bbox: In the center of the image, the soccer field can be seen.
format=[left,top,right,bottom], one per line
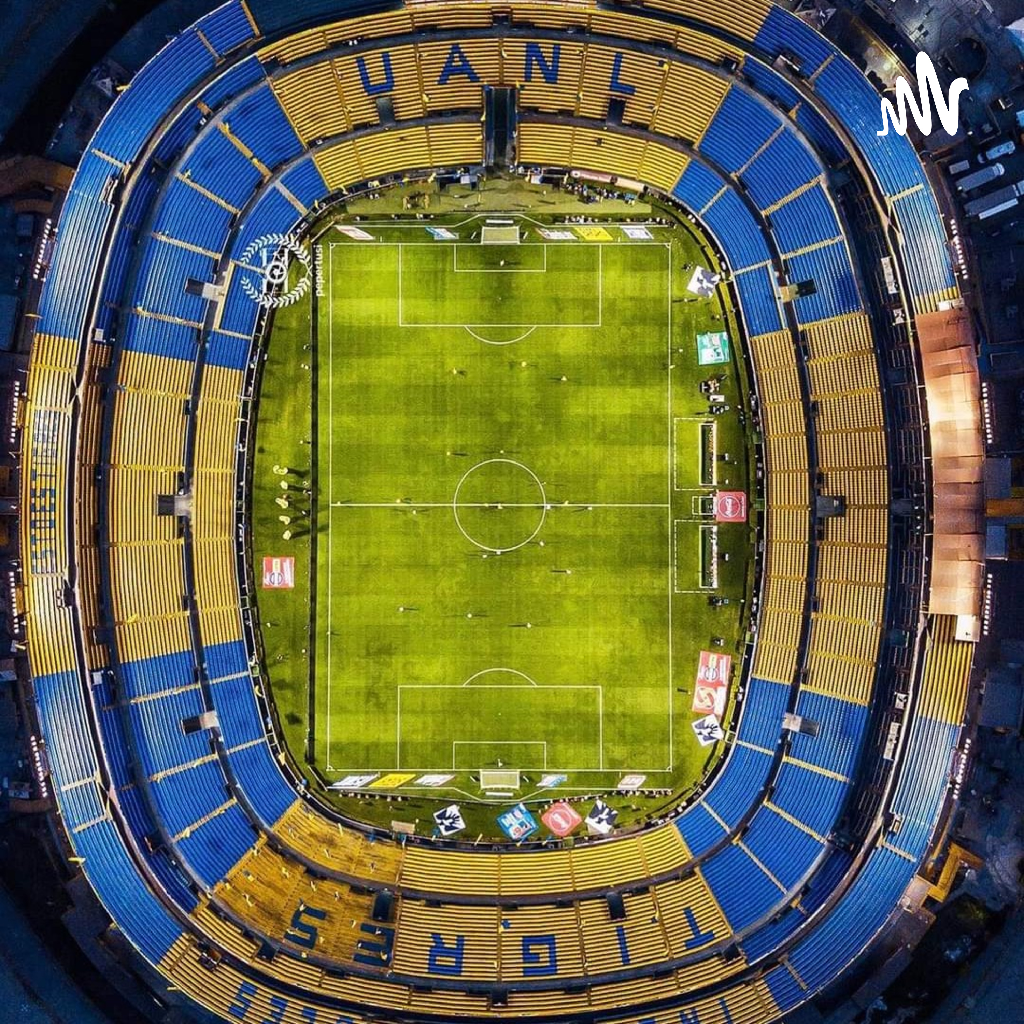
[245,173,756,843]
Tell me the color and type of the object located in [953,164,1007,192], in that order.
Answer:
blue truck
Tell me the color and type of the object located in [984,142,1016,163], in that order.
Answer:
blue vehicle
